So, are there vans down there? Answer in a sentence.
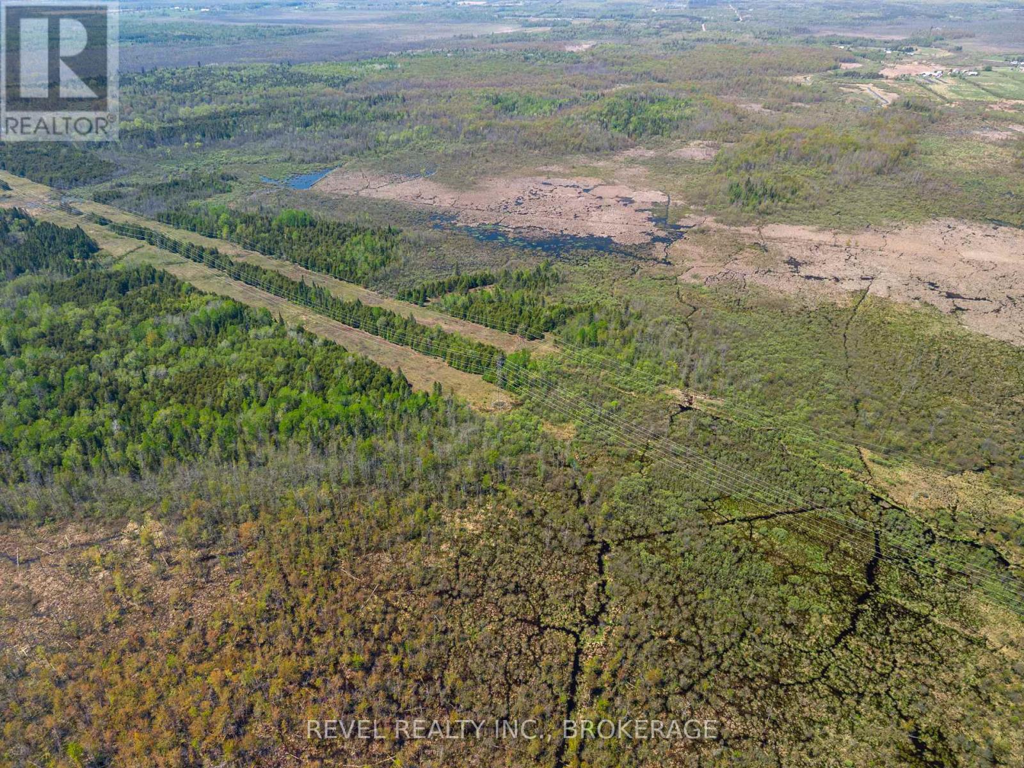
No, the scene contains no van.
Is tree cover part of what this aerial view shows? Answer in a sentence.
Yes, some tree cover is visible.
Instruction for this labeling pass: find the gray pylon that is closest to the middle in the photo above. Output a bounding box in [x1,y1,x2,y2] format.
[488,354,509,409]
